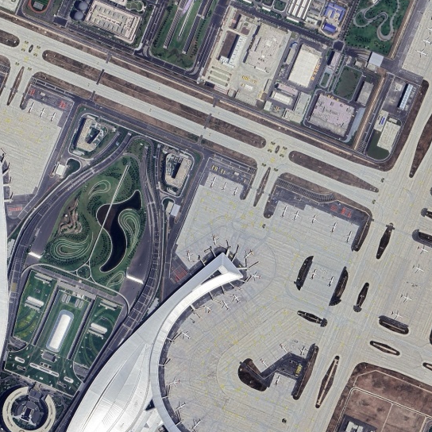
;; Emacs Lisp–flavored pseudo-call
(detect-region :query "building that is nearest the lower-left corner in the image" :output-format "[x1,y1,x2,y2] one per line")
[2,387,55,432]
